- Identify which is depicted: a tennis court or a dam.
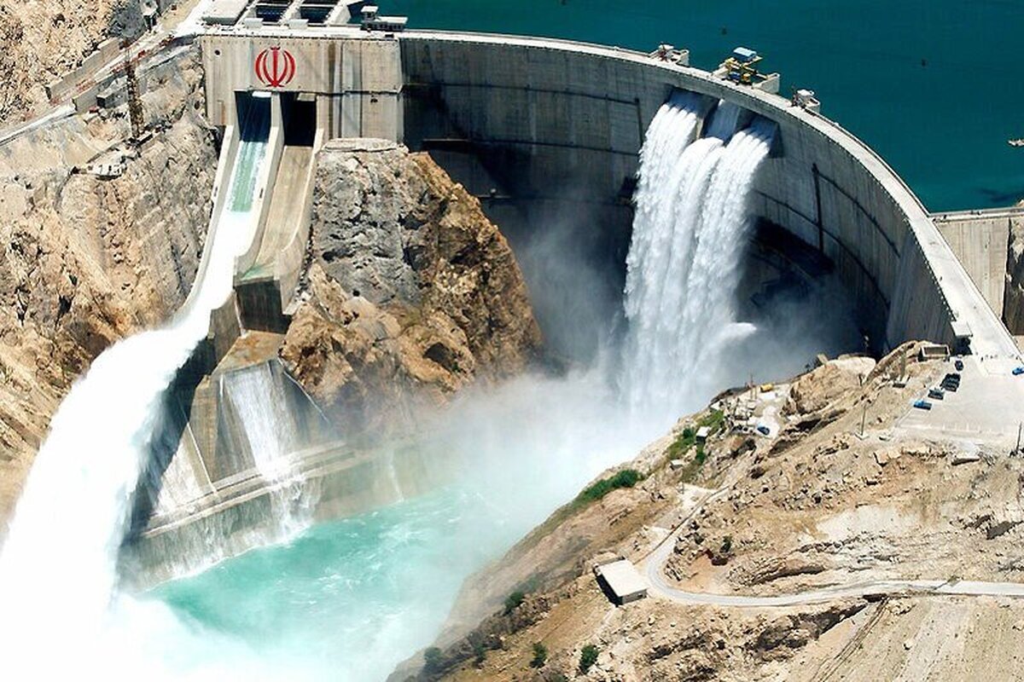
dam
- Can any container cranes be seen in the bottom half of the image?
No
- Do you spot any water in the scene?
Yes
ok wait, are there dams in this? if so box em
[396,29,991,410]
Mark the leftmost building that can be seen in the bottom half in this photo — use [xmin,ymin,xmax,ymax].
[594,558,650,614]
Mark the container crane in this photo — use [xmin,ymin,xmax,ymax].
[727,54,772,86]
